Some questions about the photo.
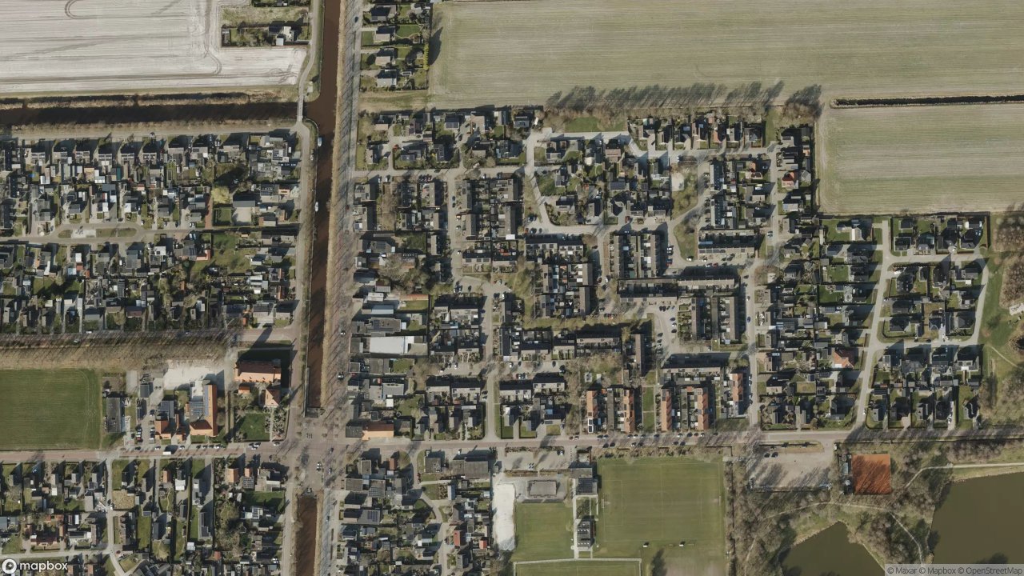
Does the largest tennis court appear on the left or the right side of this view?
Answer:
right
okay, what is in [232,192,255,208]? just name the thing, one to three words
house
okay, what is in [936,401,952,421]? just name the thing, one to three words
house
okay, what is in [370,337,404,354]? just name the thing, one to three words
building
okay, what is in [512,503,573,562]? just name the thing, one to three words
sports field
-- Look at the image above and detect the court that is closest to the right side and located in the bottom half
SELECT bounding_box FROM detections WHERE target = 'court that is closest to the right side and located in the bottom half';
[852,453,892,495]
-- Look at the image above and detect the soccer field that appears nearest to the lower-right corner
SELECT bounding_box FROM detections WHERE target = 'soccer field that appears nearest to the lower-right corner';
[593,456,726,576]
